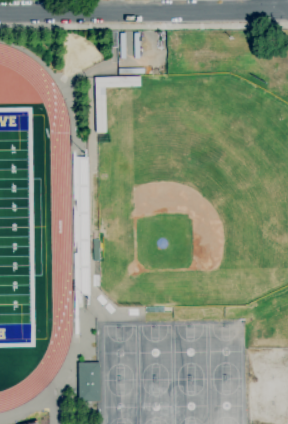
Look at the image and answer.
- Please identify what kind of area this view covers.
sports ground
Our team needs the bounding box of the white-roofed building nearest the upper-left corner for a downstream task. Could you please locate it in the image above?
[94,75,140,131]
